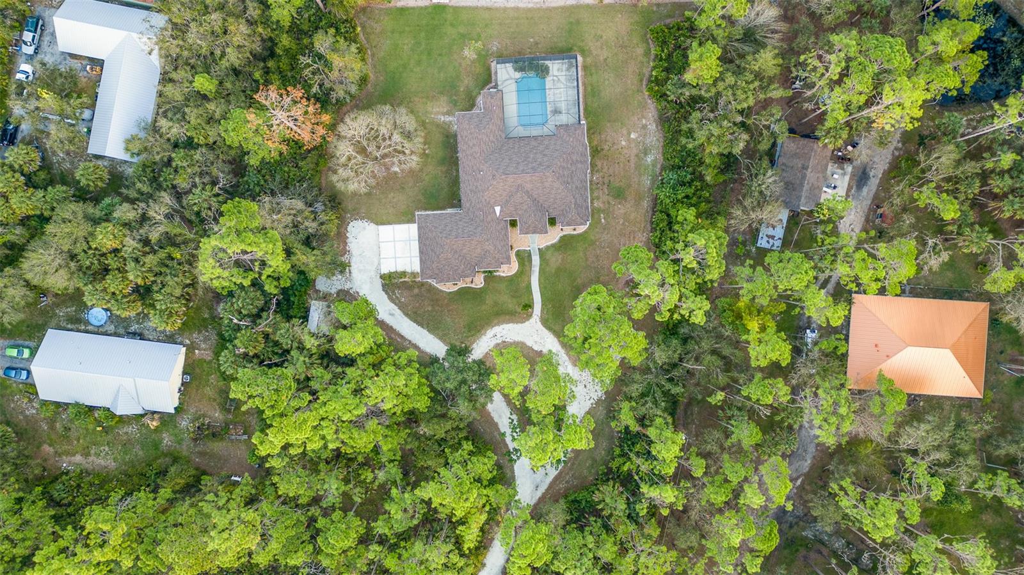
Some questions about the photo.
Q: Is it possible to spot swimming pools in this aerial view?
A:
Yes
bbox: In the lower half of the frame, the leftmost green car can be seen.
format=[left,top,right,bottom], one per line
[5,346,32,359]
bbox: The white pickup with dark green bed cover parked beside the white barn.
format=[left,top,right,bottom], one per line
[19,16,42,55]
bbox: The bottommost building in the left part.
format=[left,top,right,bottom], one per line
[31,329,189,414]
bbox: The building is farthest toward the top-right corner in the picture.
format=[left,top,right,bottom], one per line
[769,137,832,206]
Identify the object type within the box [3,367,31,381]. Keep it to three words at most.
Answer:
car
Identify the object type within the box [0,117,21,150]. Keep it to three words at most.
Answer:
truck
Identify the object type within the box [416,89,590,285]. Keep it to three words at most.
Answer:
house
